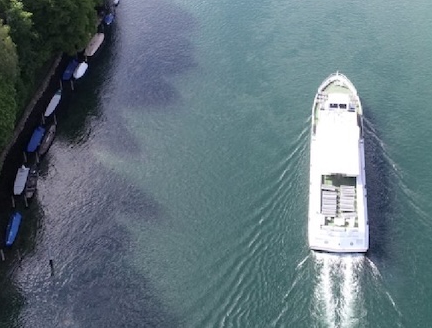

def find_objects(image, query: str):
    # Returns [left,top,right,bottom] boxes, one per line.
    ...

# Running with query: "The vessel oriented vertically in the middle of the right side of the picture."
[308,68,369,260]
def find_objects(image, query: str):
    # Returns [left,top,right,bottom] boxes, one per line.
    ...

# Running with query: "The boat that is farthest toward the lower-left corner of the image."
[1,209,22,246]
